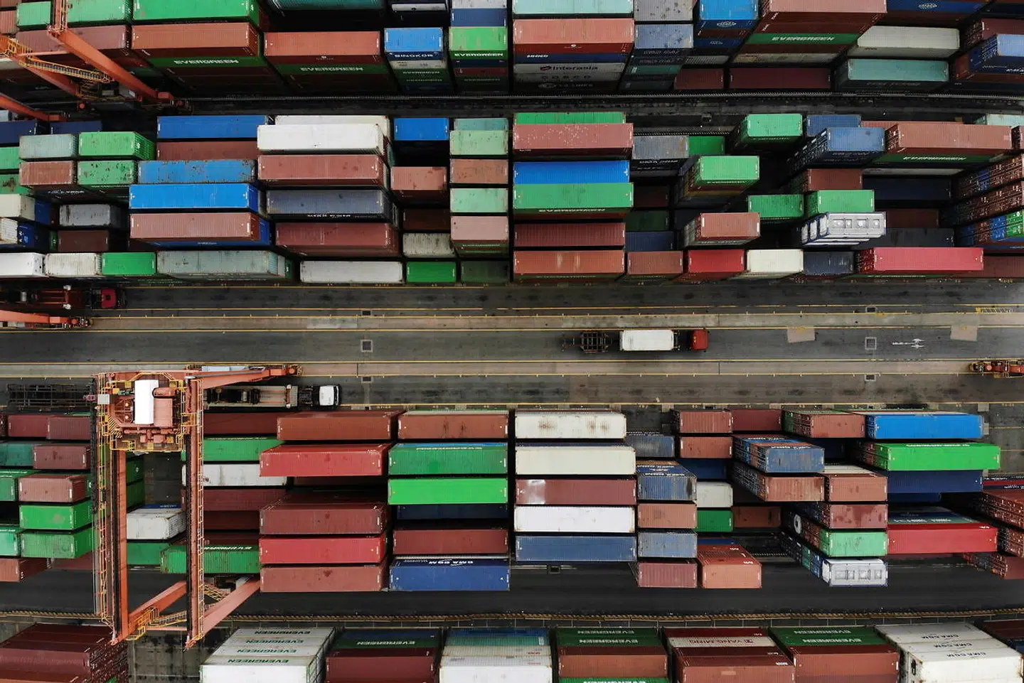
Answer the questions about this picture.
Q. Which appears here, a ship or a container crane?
container crane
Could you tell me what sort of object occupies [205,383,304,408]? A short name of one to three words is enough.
trailer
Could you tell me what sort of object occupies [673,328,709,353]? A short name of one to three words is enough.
truck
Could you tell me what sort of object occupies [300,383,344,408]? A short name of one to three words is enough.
truck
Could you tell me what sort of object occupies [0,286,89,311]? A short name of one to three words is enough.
trailer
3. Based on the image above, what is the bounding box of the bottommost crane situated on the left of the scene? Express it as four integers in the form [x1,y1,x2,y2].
[93,363,303,662]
